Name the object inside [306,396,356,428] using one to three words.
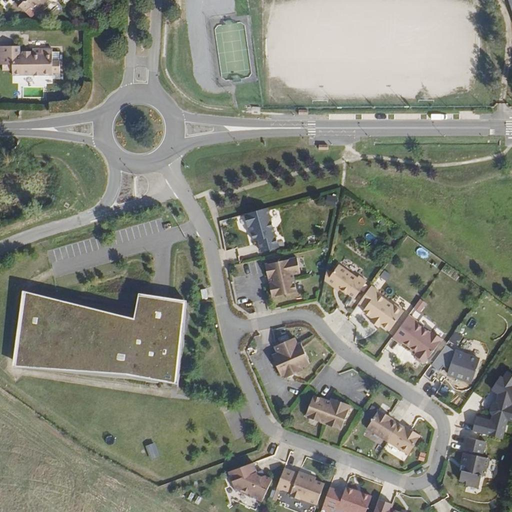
house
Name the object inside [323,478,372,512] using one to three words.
house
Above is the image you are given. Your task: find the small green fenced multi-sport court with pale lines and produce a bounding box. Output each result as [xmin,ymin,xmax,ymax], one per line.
[210,16,258,88]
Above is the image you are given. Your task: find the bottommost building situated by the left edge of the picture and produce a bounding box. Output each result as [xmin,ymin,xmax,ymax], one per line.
[12,291,186,384]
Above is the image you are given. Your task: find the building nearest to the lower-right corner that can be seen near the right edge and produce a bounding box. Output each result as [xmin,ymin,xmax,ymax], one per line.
[462,438,490,486]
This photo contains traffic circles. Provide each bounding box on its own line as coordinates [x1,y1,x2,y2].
[90,74,190,178]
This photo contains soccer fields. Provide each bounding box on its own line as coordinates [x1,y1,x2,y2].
[261,0,484,105]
